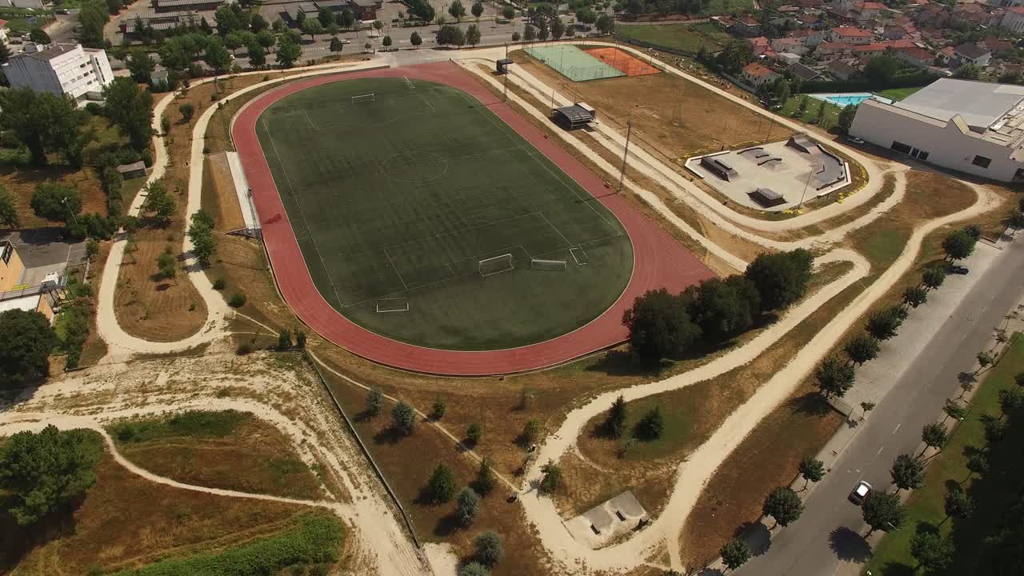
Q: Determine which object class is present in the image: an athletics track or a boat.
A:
athletics track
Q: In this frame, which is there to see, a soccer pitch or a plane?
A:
soccer pitch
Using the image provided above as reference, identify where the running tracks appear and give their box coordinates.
[231,61,723,378]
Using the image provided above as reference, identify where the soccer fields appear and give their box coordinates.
[256,76,632,350]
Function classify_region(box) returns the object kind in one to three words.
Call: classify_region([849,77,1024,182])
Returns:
building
